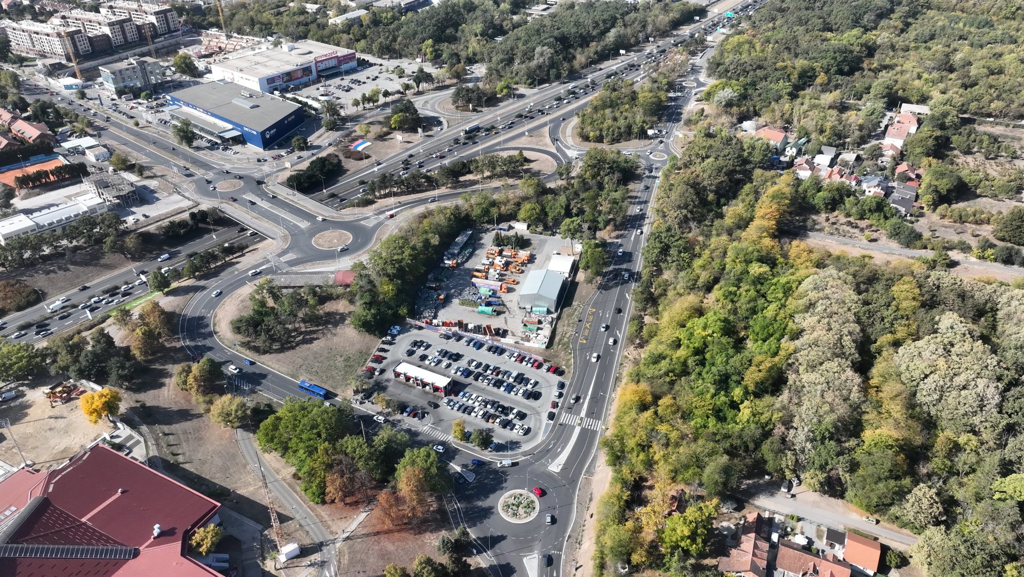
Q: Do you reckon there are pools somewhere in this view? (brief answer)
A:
No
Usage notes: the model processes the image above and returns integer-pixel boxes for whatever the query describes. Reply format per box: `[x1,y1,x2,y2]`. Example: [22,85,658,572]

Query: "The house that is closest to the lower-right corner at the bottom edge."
[841,531,881,577]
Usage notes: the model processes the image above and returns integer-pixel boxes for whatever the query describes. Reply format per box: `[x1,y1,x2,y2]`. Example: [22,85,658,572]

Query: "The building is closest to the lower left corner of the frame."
[0,442,228,577]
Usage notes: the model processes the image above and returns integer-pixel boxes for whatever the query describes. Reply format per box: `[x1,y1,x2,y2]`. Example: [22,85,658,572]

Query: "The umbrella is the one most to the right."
[793,533,809,547]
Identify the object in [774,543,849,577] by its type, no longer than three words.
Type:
house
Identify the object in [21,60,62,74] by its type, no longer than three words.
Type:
building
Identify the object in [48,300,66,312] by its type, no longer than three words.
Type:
vehicle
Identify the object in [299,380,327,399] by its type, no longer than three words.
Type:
vehicle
